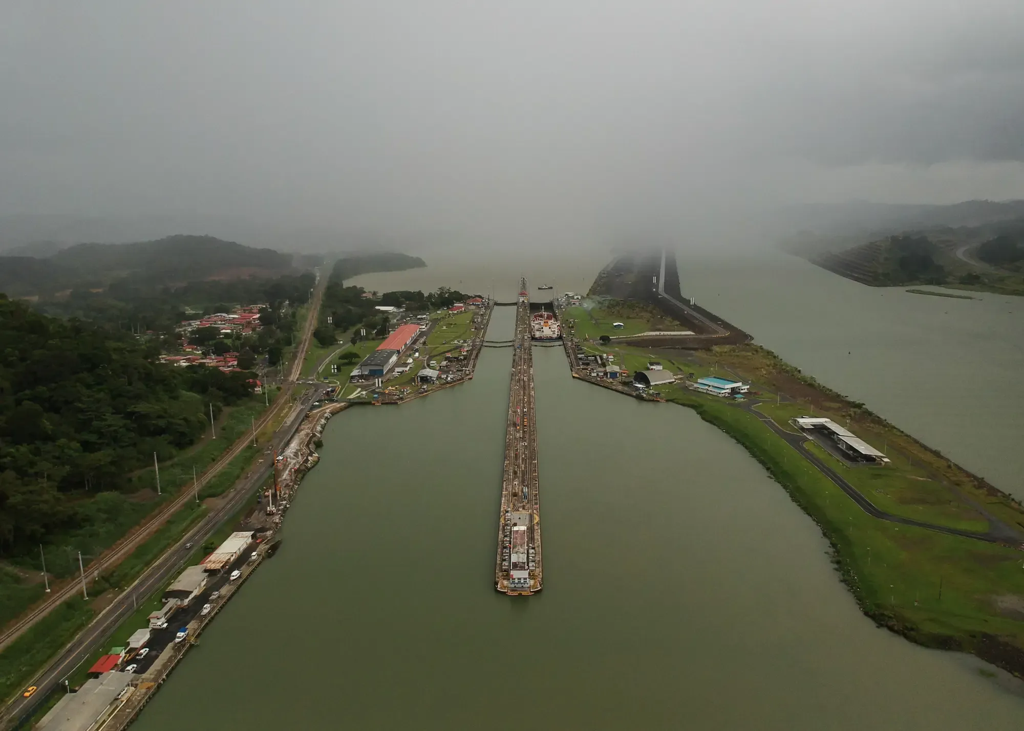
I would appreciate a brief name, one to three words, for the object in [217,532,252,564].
building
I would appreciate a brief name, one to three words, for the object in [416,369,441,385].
building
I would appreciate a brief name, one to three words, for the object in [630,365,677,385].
hangar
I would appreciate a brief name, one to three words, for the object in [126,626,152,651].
shed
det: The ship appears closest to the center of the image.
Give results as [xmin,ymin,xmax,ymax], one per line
[531,309,559,343]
